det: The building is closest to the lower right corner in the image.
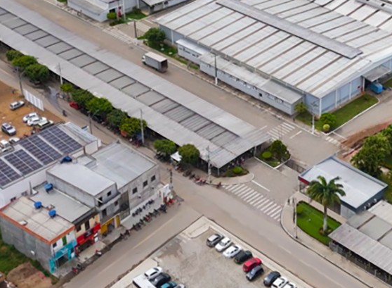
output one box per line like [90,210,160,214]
[298,153,391,219]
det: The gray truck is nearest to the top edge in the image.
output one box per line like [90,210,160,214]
[139,51,166,72]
